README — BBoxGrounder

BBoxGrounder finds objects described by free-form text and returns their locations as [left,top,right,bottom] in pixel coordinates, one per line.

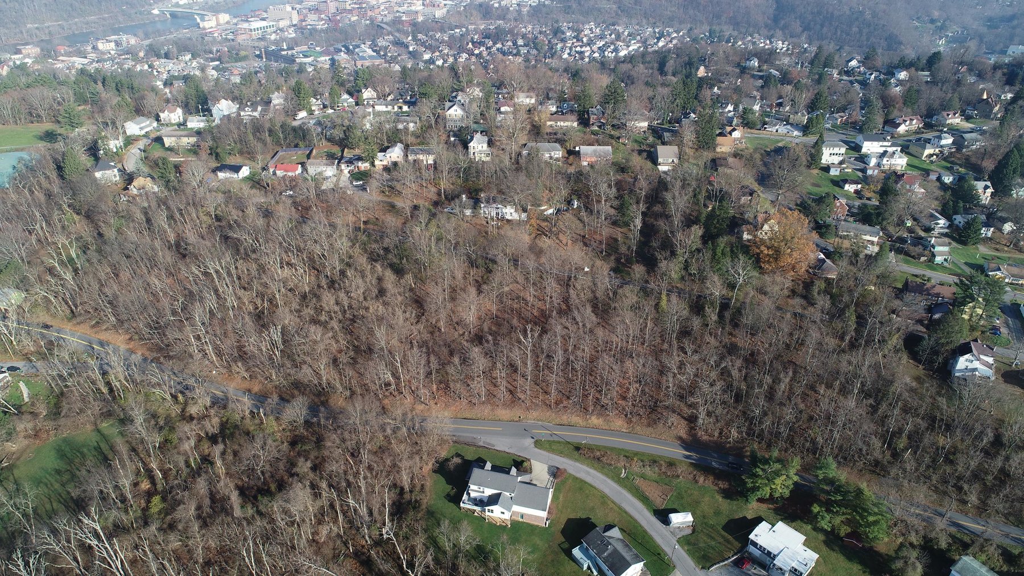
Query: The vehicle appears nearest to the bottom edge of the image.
[737,552,752,572]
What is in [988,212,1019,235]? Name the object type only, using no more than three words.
house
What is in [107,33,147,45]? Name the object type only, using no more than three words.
building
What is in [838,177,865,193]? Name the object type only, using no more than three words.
house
